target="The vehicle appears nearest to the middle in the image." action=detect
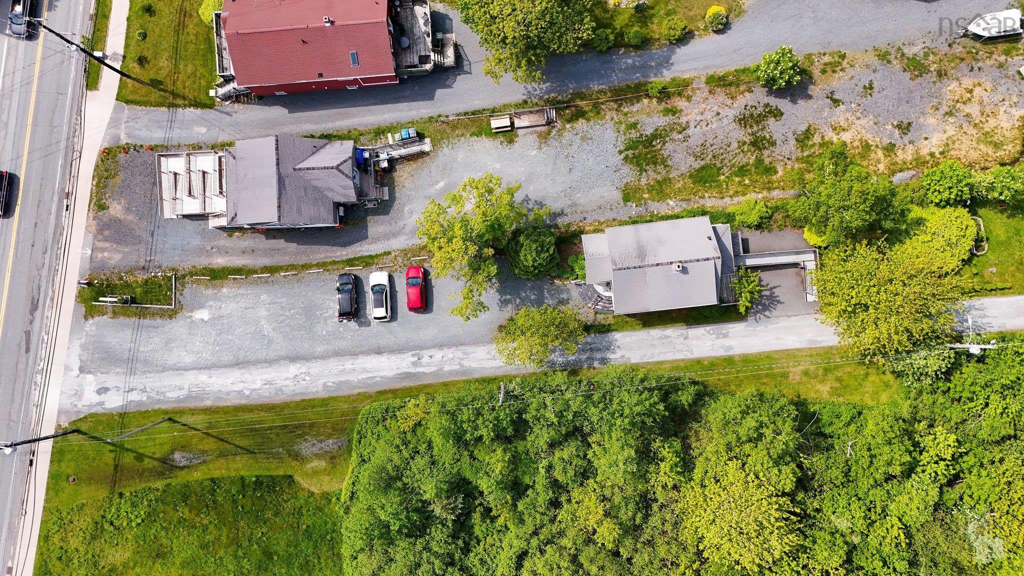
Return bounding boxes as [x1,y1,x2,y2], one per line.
[404,266,427,312]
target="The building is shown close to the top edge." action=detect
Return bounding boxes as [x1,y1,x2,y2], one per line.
[220,0,402,97]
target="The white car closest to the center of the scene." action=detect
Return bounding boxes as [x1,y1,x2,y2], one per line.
[368,270,392,321]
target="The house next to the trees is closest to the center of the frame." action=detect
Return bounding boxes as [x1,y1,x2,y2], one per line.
[581,216,744,315]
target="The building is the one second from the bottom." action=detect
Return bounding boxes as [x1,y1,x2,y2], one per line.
[224,136,362,228]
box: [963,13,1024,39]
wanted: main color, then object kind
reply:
white boat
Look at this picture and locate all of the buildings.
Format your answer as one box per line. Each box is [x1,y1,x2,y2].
[224,136,362,228]
[581,216,744,315]
[220,0,402,97]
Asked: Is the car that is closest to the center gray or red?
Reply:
red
